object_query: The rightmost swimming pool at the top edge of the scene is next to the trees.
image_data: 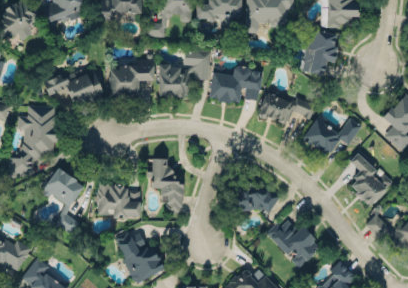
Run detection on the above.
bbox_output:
[306,0,320,24]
